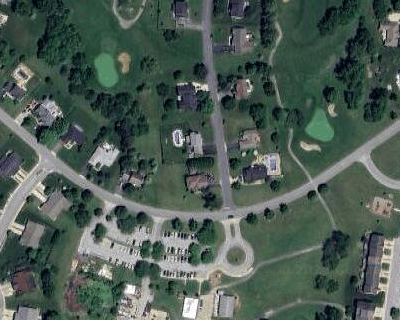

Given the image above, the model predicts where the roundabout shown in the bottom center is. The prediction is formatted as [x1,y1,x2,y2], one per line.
[219,218,254,273]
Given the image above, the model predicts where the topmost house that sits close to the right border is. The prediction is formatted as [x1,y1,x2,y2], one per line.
[384,14,400,46]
